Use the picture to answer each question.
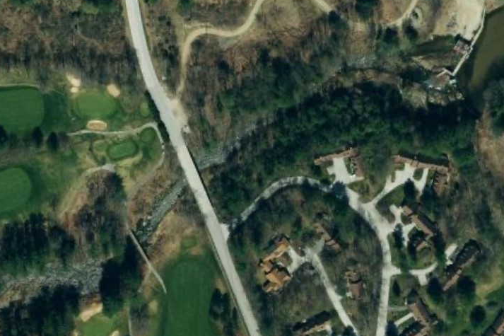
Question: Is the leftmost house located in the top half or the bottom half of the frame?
bottom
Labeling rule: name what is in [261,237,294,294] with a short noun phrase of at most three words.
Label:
house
